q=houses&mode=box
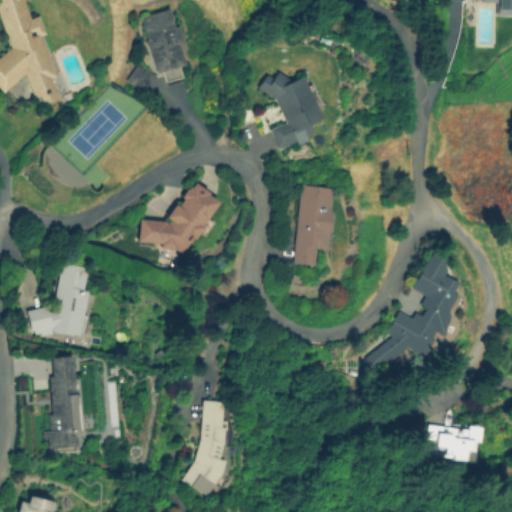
[0,0,62,105]
[296,185,333,266]
[28,266,89,337]
[258,70,325,149]
[183,401,228,496]
[143,10,188,83]
[498,0,512,16]
[364,256,461,366]
[428,425,486,462]
[19,496,57,512]
[140,184,222,252]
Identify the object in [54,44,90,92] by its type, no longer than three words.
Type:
swimming pool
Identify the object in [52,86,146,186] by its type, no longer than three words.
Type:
tennis court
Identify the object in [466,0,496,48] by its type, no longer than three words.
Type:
swimming pool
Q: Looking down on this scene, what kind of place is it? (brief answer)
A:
residential area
